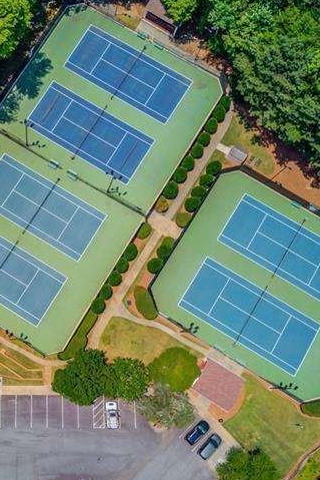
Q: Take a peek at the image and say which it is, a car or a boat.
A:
car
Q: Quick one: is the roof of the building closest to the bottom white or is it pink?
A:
pink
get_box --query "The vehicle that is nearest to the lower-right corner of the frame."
[198,433,224,461]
